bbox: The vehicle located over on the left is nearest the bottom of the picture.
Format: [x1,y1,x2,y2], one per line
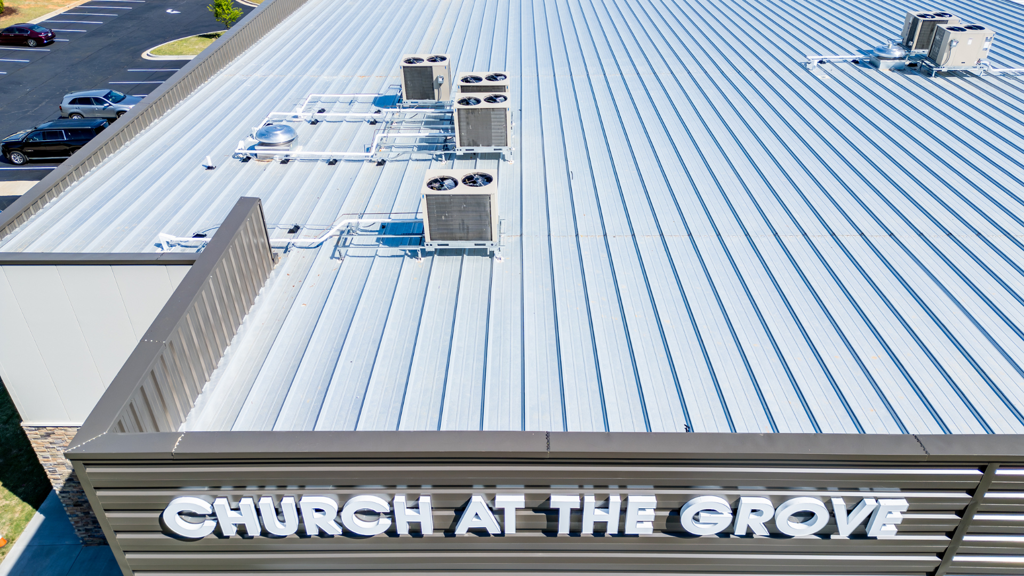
[0,119,108,163]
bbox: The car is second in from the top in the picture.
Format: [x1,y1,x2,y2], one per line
[61,91,140,120]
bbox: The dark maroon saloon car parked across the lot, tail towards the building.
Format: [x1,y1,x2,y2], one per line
[0,24,55,46]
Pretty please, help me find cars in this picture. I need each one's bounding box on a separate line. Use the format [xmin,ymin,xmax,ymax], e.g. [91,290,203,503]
[61,91,140,120]
[0,119,108,163]
[0,24,55,46]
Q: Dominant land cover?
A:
buildings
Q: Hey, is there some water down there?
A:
No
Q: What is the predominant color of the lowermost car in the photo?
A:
black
